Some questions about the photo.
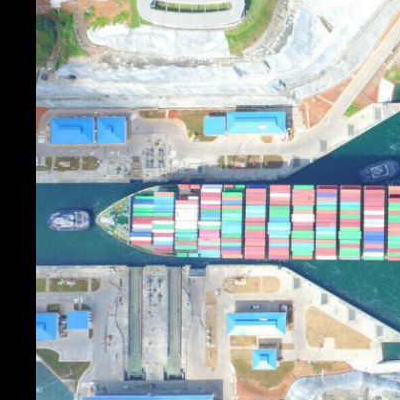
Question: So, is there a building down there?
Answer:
Yes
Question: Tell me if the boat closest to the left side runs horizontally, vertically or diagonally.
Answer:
horizontally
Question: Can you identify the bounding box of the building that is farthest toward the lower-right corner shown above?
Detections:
[253,349,277,370]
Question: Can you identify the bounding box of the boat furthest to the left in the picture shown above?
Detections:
[47,210,92,232]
